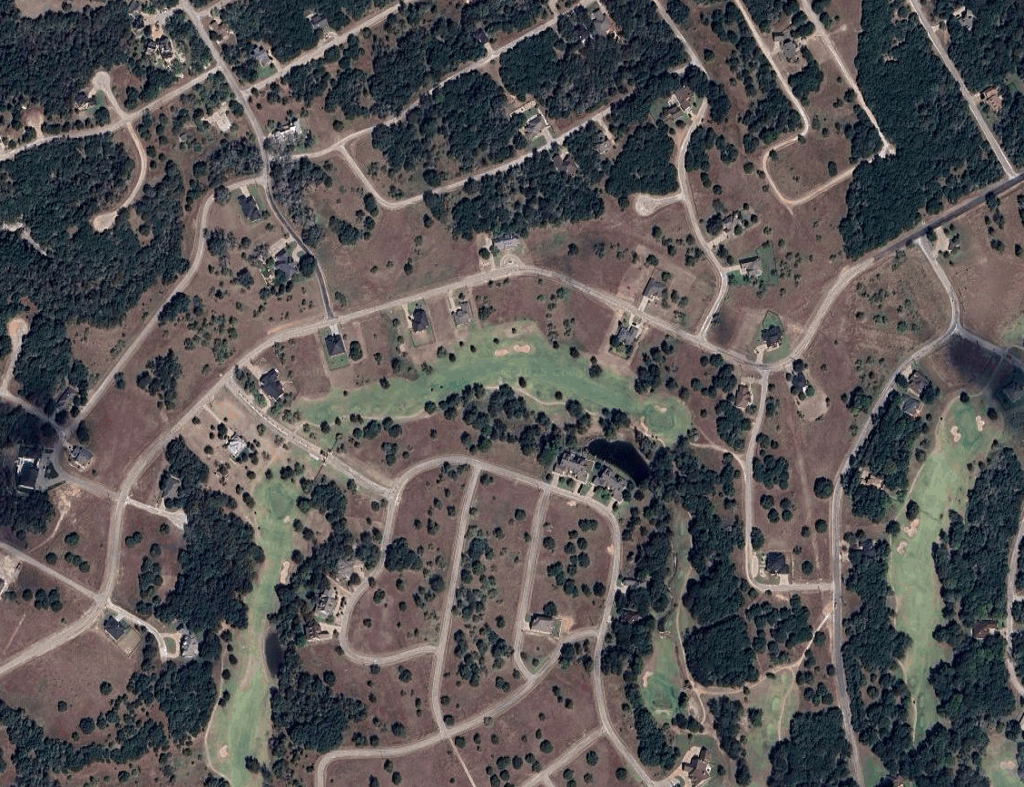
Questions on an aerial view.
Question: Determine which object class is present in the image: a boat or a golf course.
golf course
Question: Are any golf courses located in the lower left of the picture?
Yes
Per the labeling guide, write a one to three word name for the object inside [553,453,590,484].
house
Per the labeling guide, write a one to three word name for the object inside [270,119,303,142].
house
